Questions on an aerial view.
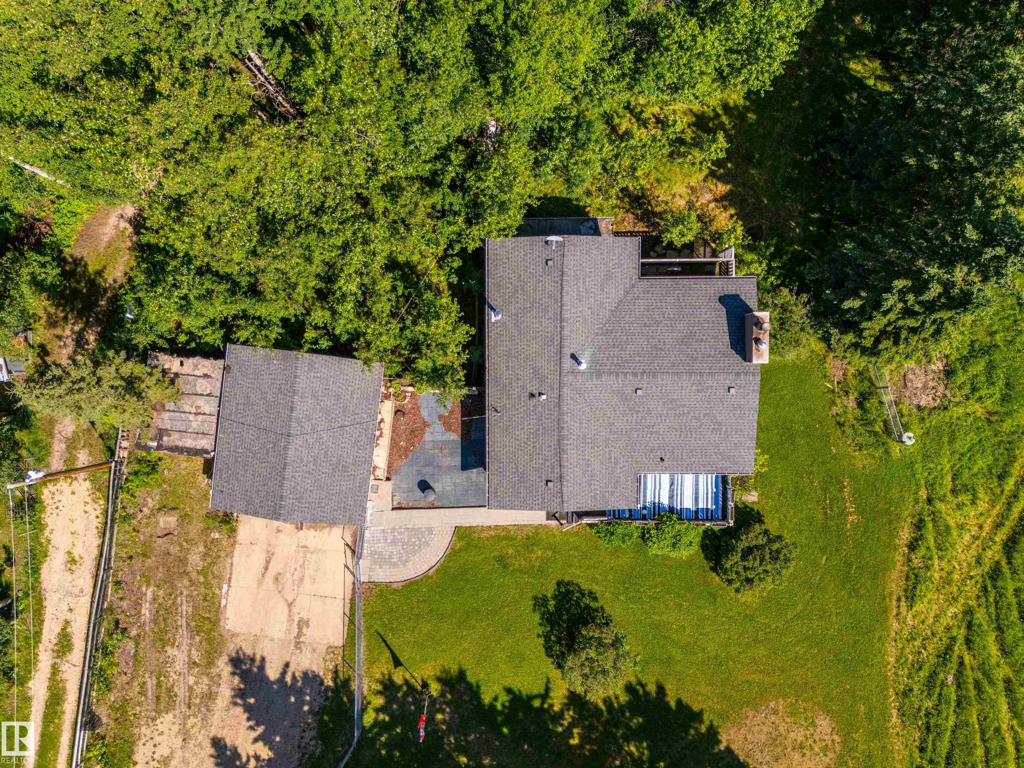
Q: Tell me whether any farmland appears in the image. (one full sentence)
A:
No, there's no farmland in this view.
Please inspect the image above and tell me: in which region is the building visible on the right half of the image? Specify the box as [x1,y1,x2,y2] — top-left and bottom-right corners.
[485,235,772,512]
